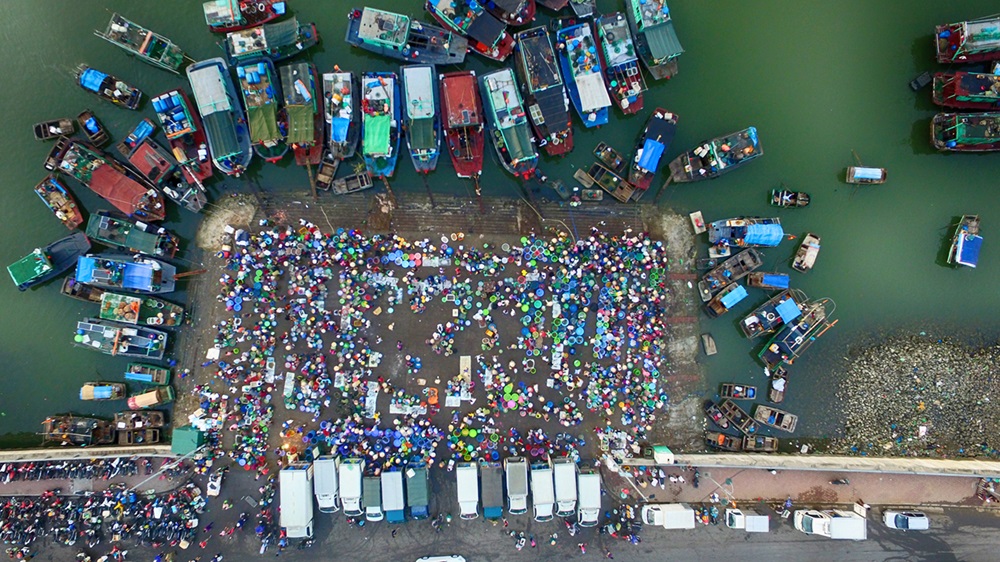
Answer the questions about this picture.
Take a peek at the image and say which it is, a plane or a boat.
boat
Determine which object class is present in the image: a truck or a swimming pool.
truck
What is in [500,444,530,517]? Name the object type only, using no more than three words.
truck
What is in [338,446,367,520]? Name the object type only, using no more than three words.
truck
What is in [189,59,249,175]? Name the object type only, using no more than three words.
boat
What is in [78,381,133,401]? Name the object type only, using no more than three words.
boat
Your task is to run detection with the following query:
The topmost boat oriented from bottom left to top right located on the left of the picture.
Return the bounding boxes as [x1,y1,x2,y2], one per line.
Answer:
[120,118,160,154]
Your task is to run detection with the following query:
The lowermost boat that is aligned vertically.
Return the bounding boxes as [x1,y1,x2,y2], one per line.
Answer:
[766,366,789,404]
